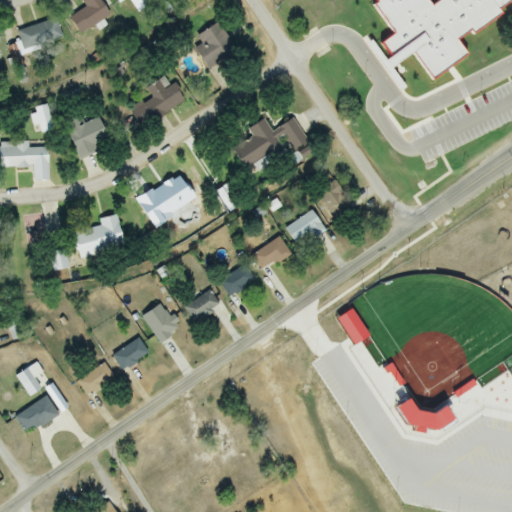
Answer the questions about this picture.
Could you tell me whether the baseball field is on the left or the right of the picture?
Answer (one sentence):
The baseball field is on the right side of the image.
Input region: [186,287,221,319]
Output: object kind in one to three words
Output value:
house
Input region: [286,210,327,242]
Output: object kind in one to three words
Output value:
house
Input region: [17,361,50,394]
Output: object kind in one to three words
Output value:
building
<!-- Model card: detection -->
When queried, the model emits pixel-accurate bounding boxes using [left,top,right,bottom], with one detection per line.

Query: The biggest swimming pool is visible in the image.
[180,51,203,76]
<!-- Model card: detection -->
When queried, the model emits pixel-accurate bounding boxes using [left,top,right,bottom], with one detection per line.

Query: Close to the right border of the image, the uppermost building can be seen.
[377,0,512,80]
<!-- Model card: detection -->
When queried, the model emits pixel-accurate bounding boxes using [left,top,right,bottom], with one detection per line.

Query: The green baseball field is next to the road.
[338,274,512,402]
